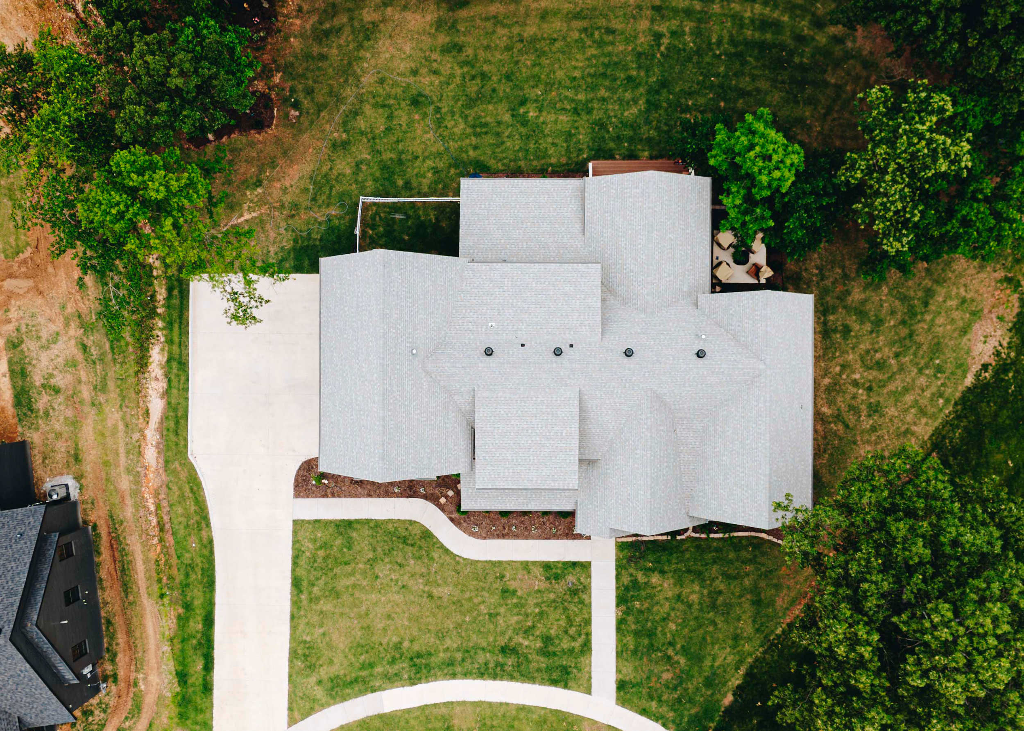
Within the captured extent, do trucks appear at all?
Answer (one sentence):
No, there appears to be no truck in this shot.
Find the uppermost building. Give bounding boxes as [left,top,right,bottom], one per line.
[317,169,816,538]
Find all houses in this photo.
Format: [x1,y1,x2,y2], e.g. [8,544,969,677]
[317,169,816,538]
[0,443,105,731]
